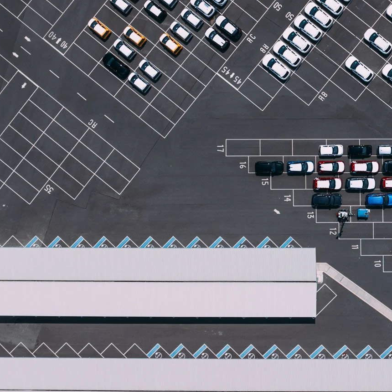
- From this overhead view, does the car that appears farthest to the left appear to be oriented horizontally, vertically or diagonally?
diagonally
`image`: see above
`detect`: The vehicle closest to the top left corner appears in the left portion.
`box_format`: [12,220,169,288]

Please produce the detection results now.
[89,18,112,40]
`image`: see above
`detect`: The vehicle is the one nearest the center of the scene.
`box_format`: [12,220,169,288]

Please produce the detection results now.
[254,160,284,175]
